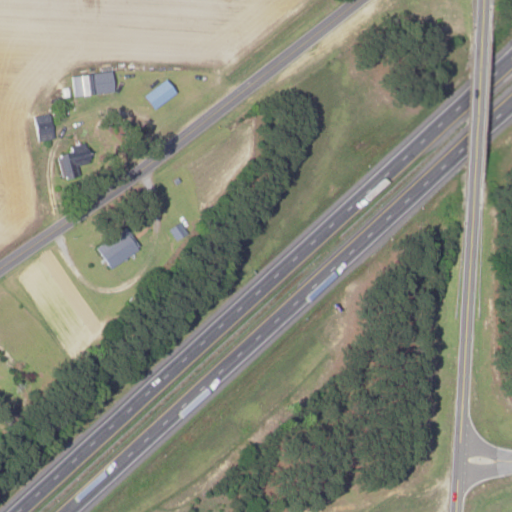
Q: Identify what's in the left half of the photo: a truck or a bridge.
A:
truck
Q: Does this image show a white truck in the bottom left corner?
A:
Yes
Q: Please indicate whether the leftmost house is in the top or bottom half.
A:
top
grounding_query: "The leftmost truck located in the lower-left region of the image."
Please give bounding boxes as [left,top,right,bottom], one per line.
[77,459,116,499]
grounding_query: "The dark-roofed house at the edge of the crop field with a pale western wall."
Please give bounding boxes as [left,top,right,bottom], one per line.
[33,114,54,141]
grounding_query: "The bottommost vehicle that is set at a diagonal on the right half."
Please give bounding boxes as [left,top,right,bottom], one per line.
[308,261,348,299]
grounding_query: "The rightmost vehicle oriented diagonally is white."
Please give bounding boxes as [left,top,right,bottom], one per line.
[354,178,391,210]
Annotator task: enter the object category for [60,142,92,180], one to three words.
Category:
house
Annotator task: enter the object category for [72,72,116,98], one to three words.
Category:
house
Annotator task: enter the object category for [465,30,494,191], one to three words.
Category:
bridge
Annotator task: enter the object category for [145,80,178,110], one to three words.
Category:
barn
